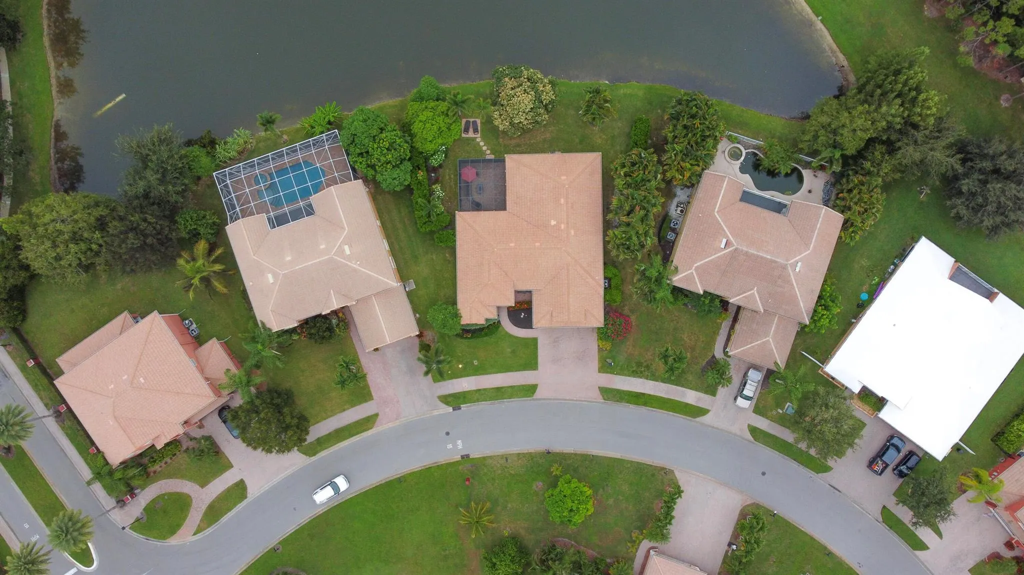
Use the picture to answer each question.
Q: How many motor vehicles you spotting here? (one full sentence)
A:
In total, 5 motor vehicles can be seen.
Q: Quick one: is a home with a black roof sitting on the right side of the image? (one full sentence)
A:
No, no home with a black roof can be made out on the right side of the image.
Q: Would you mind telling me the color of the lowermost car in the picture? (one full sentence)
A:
From above, the lowermost car appears white.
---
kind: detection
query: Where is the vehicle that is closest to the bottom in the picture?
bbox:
[311,475,352,506]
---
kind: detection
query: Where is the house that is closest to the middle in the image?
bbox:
[455,152,605,329]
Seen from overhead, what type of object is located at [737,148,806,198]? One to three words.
swimming pool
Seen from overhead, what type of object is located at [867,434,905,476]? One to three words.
truck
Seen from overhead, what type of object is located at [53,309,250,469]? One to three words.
house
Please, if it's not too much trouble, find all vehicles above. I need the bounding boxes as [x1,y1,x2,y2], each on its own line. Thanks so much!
[218,406,239,441]
[892,448,922,479]
[734,367,763,408]
[867,434,905,476]
[311,475,352,506]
